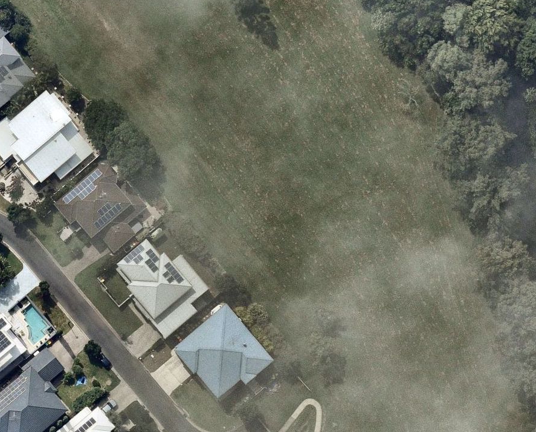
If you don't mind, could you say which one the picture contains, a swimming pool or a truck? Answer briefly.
swimming pool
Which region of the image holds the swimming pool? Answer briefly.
bottom left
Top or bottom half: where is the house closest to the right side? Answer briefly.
bottom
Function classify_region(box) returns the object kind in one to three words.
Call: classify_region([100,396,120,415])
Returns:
car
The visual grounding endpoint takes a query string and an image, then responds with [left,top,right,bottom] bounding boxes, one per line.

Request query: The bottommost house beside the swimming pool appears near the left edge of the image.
[0,347,69,432]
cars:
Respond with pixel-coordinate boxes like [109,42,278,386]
[100,396,120,415]
[96,350,116,373]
